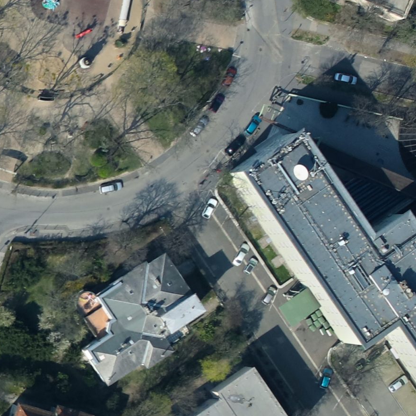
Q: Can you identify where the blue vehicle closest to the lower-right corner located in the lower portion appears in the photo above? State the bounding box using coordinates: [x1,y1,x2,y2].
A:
[318,366,333,391]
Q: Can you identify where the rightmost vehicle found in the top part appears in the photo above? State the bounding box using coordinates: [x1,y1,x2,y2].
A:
[331,71,359,86]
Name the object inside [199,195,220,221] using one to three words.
car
